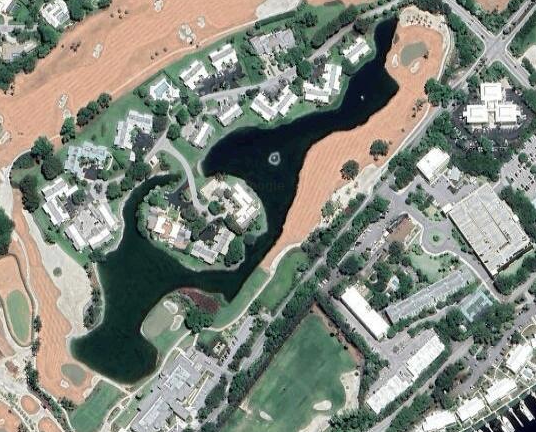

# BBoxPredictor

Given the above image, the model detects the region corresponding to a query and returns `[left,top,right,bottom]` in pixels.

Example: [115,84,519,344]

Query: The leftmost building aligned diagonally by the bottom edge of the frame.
[129,346,219,432]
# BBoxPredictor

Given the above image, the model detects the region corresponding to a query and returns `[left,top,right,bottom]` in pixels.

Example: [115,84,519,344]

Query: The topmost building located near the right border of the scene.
[463,83,519,131]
